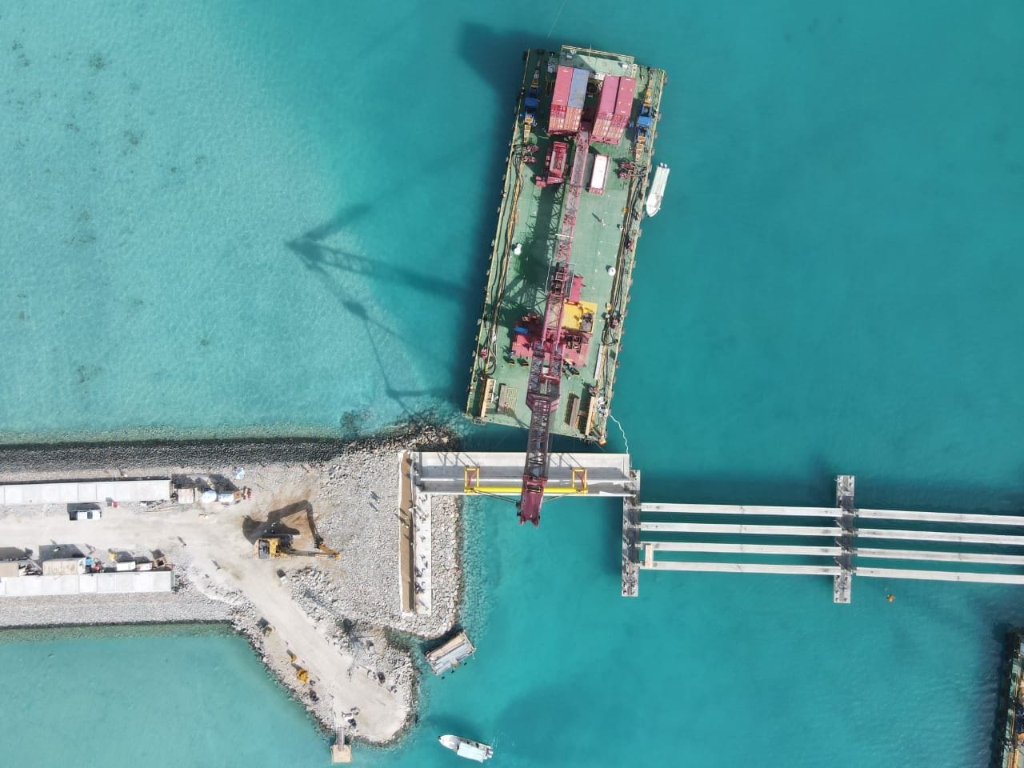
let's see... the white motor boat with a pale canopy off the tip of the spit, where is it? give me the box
[439,735,498,767]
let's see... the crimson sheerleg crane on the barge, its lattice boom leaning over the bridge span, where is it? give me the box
[511,120,599,528]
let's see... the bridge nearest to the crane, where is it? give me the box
[419,453,634,495]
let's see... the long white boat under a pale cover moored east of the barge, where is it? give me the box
[649,162,669,214]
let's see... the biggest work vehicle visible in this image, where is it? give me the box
[250,536,340,560]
